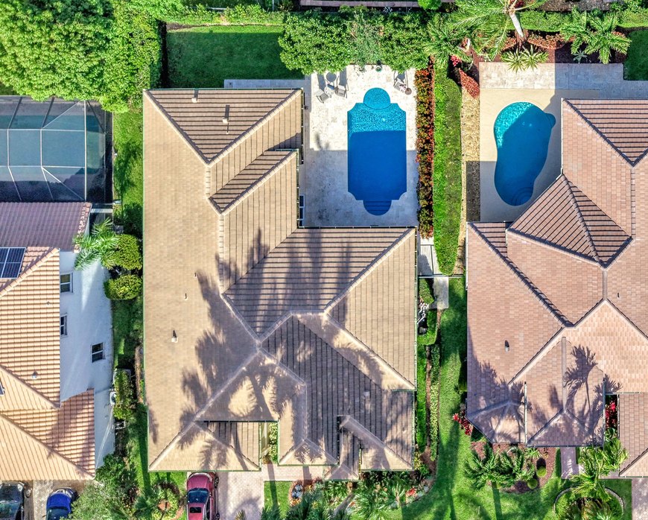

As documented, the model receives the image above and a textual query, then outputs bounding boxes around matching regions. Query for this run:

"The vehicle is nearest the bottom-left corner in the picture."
[0,484,35,520]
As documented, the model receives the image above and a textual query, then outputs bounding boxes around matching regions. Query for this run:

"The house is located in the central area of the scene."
[141,87,419,482]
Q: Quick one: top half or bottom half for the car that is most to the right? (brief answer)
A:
bottom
